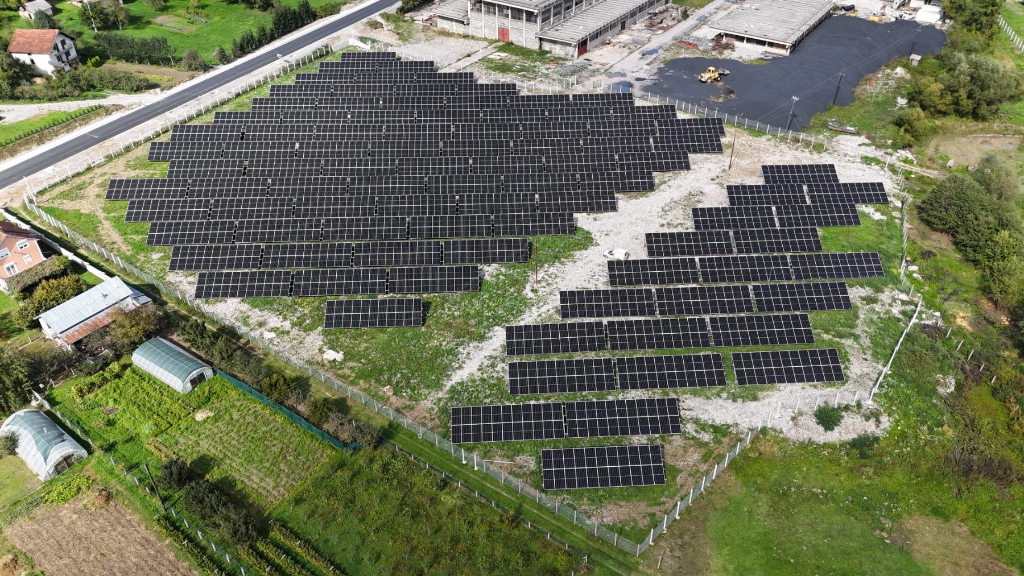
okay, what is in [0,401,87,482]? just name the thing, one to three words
greenhouse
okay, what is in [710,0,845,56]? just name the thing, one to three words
shed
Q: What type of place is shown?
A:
solar farm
